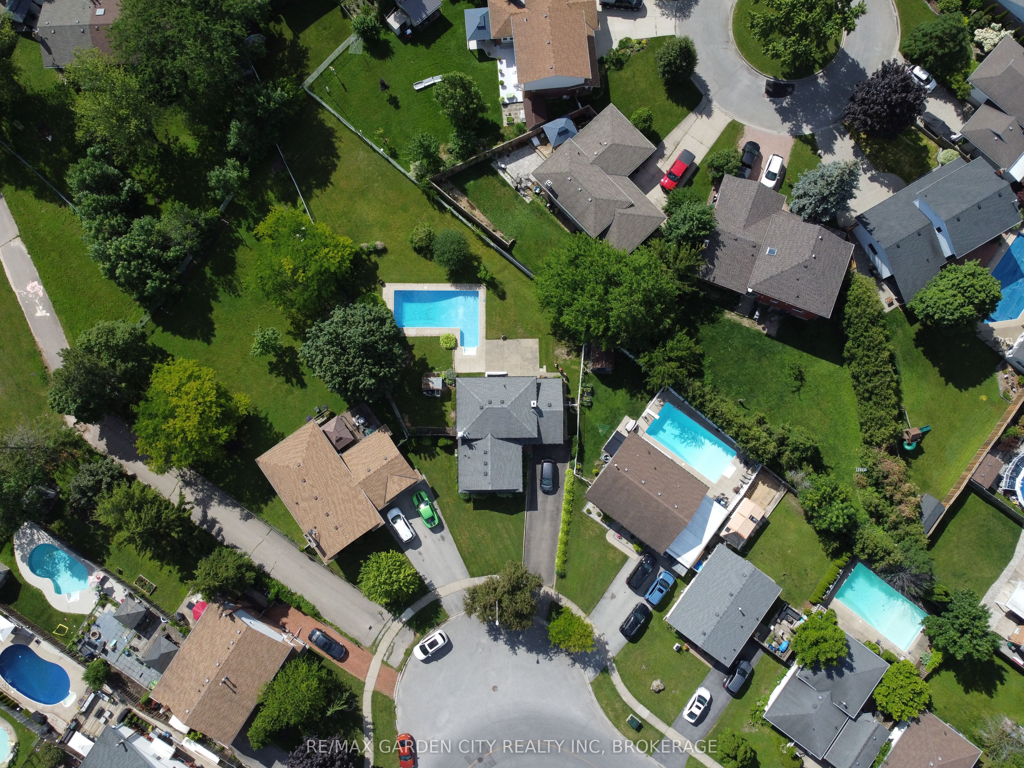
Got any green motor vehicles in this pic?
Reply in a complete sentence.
Yes, a green motor vehicle appears in the view.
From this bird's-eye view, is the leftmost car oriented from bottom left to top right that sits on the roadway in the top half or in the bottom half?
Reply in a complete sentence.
The leftmost car oriented from bottom left to top right that sits on the roadway sits in the bottom half of the picture.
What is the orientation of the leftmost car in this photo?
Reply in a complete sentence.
I'd say the leftmost car is aligned on a diagonal in the picture.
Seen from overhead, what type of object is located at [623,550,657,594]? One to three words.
truck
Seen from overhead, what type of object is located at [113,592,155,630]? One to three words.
gazebo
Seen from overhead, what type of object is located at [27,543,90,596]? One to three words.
swimming pool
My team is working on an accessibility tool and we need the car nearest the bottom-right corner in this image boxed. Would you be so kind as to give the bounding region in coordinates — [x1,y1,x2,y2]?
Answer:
[722,657,753,698]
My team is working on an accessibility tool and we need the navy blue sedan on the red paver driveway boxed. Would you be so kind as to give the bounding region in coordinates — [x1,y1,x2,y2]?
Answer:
[309,626,345,659]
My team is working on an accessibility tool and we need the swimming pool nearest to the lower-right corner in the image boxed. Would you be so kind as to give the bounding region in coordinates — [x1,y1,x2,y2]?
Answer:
[835,564,924,652]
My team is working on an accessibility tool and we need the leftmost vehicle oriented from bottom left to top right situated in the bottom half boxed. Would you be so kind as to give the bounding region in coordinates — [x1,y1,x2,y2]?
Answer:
[412,628,449,661]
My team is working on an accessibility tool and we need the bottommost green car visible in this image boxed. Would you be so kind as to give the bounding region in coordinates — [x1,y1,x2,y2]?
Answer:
[412,489,439,529]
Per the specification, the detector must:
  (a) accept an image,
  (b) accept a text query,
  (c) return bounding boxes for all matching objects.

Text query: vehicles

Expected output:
[412,628,449,661]
[682,685,711,724]
[619,601,650,642]
[759,152,783,188]
[309,626,345,659]
[904,63,938,96]
[660,148,695,191]
[387,505,415,544]
[722,657,753,698]
[412,489,439,529]
[623,550,657,594]
[538,457,556,493]
[398,732,416,768]
[644,568,675,607]
[738,140,761,178]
